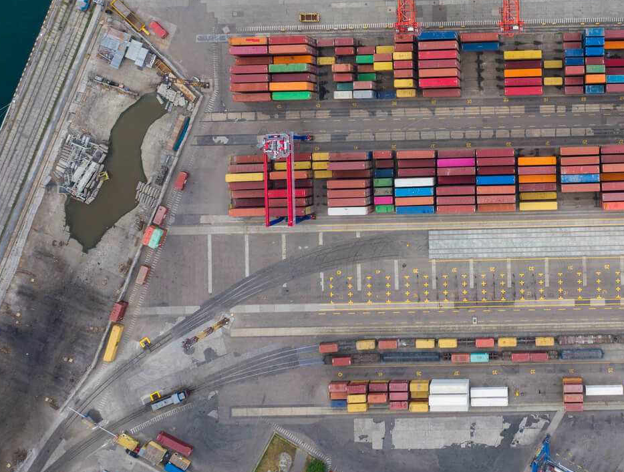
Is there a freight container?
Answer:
Yes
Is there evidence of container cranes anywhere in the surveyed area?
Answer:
Yes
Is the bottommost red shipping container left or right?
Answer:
left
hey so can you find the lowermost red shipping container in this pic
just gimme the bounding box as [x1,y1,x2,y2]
[157,428,197,455]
